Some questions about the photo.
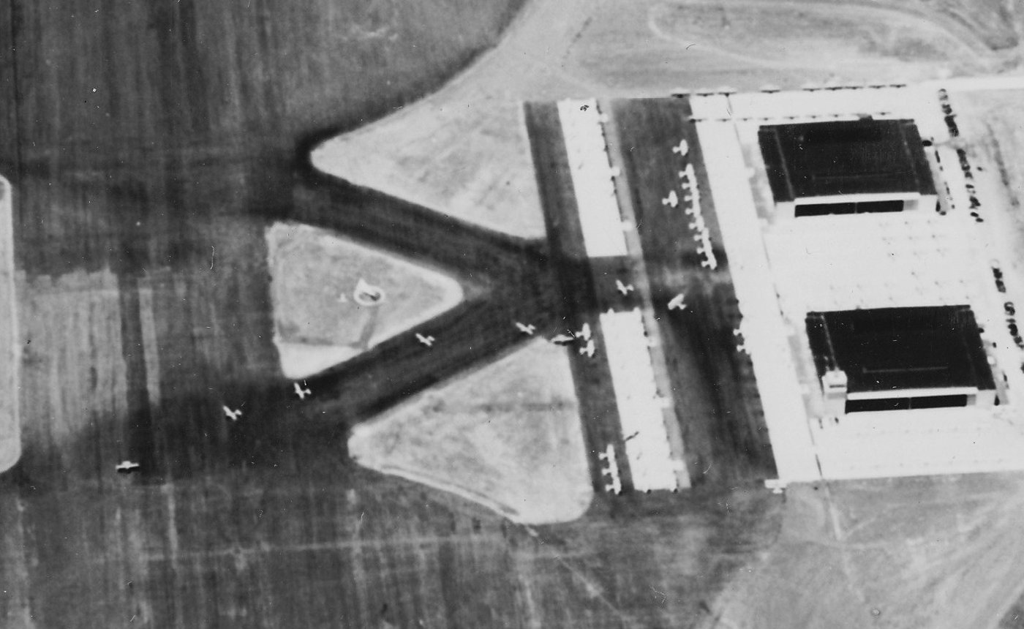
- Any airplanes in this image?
Yes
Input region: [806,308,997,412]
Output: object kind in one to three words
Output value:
hangar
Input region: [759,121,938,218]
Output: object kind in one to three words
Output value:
hangar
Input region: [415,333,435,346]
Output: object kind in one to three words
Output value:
airplane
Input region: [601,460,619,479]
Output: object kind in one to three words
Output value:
airplane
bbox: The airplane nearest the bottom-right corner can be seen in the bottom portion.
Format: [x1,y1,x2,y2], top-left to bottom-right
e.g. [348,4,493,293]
[765,481,787,497]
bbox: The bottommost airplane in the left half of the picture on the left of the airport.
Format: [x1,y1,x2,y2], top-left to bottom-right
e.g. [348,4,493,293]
[117,458,139,472]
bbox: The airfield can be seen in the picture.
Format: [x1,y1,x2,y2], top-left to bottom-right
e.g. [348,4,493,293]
[266,77,1024,524]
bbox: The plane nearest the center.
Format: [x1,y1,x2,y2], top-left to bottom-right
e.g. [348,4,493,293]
[516,322,535,335]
